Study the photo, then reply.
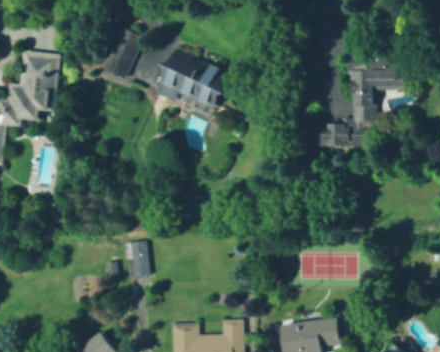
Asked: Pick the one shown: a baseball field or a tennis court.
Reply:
tennis court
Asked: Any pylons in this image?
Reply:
No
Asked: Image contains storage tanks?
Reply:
No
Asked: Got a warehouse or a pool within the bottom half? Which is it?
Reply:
pool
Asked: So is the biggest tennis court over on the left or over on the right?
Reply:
right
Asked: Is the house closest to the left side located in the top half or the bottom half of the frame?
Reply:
top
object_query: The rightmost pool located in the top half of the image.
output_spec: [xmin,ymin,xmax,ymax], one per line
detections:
[389,96,415,110]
